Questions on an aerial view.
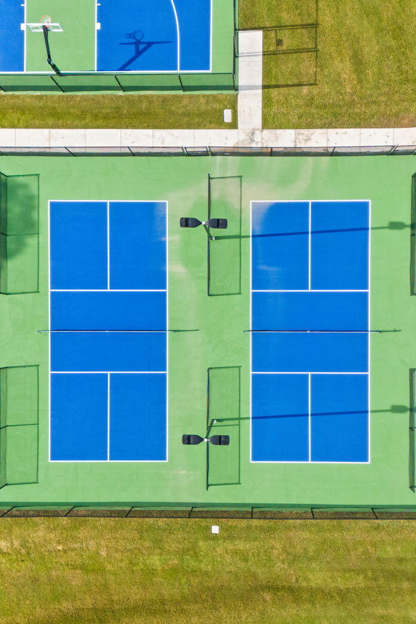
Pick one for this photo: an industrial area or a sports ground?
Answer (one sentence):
This looks like a sports ground.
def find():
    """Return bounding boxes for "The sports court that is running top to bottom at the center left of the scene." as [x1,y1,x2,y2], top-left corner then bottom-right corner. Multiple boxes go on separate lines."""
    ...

[48,200,167,463]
